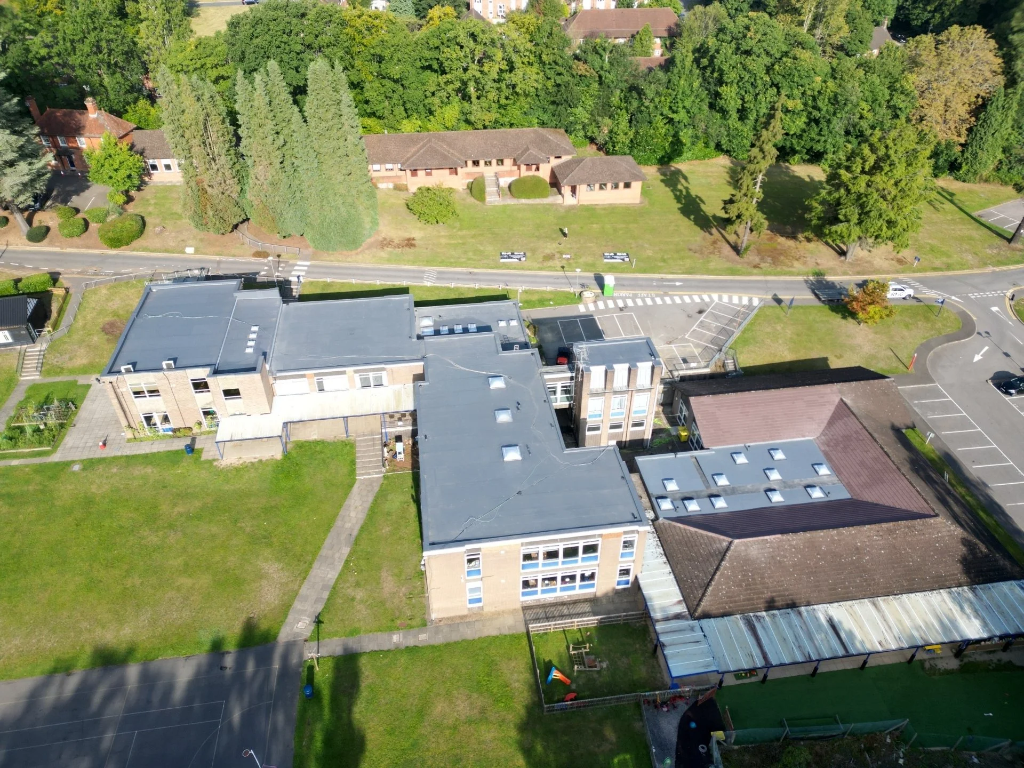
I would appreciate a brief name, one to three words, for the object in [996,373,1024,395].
car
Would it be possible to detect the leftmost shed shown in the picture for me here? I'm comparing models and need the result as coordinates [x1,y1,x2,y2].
[0,297,47,346]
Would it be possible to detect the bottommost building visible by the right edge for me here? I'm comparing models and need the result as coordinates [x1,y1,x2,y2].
[632,366,1024,632]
